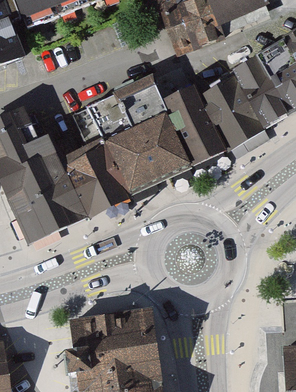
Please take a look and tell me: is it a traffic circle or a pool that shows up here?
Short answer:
traffic circle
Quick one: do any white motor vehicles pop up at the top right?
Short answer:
Yes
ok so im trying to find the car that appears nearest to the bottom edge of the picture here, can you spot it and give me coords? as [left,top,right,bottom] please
[11,380,32,392]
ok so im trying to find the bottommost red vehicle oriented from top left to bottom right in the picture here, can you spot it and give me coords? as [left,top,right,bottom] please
[64,92,79,112]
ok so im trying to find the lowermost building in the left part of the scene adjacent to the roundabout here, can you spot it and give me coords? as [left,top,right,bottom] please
[65,306,165,392]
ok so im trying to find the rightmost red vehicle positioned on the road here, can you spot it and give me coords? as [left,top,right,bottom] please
[77,82,105,100]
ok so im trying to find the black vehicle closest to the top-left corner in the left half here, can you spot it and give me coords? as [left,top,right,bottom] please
[66,43,80,64]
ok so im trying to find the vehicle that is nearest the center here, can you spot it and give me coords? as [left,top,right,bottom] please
[140,220,167,237]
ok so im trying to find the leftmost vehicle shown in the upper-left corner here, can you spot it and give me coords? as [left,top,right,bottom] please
[41,52,55,73]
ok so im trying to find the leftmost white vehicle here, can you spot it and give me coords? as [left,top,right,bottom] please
[26,289,44,317]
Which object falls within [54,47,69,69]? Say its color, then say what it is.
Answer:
white car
